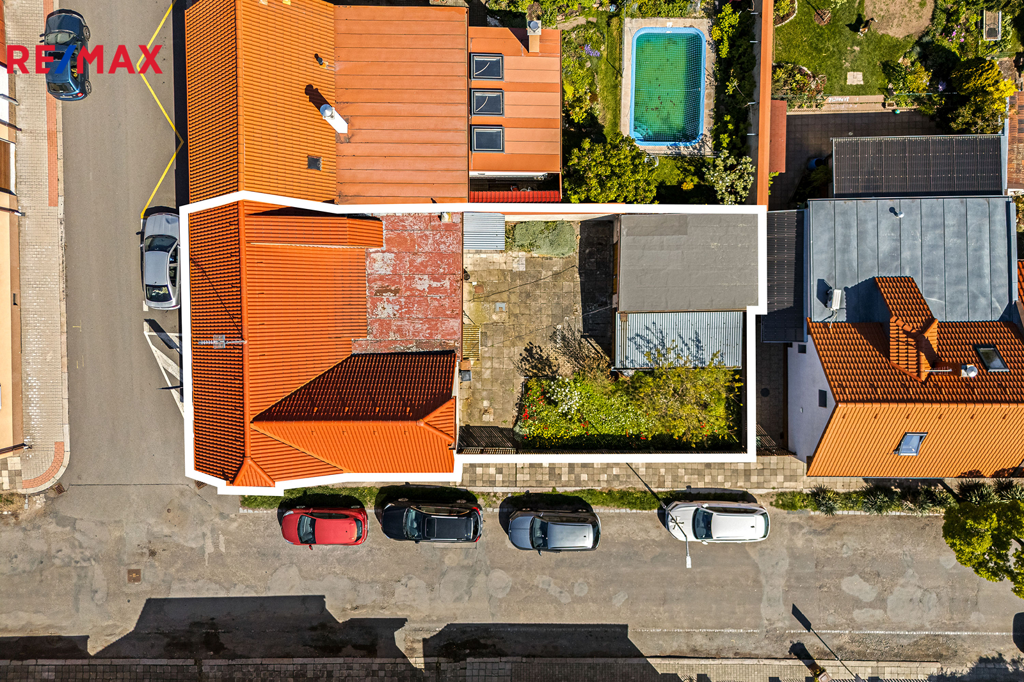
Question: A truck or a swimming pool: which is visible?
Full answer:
Looking from above, you can make out a swimming pool.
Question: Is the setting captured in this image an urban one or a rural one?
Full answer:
The area shown here is urban.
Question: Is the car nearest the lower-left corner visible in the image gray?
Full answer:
No, the color of the car nearest the lower-left corner is red.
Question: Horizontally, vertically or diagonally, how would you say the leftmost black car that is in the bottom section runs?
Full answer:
In this picture, the leftmost black car that is in the bottom section lies horizontally.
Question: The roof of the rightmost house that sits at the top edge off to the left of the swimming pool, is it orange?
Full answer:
Yes, orange is the color of the roof of the rightmost house that sits at the top edge off to the left of the swimming pool.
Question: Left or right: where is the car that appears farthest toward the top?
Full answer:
You can find the car that appears farthest toward the top on the left side of the picture.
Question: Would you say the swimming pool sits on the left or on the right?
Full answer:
The swimming pool is on the right side of the image.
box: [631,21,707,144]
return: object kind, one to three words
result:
swimming pool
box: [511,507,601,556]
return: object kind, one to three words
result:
car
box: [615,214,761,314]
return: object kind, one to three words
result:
building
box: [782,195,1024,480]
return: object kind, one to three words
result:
house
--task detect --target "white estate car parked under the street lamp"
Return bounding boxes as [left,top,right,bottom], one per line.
[668,499,768,548]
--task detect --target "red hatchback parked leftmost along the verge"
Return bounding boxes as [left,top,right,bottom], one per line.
[277,504,365,551]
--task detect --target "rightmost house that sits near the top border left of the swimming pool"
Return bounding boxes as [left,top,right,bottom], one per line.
[181,0,564,220]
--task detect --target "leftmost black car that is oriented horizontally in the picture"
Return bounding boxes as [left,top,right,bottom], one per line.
[382,499,482,549]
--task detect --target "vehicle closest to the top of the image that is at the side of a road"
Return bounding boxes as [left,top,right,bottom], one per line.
[37,13,90,101]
